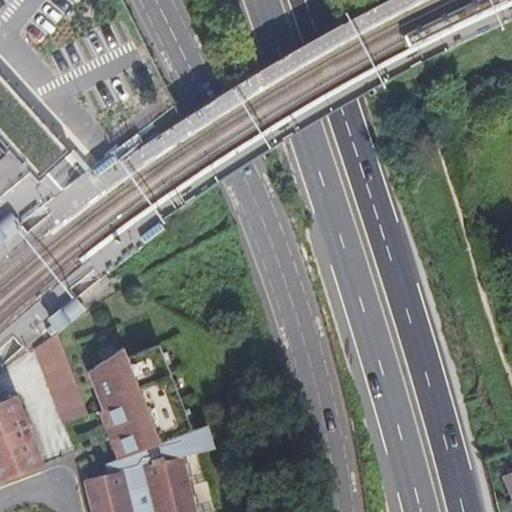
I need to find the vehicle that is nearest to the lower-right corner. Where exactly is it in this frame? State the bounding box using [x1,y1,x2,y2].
[445,425,460,449]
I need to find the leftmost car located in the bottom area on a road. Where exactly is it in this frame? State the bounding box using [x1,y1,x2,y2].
[323,408,338,432]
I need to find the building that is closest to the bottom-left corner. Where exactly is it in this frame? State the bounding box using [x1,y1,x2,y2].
[0,396,44,484]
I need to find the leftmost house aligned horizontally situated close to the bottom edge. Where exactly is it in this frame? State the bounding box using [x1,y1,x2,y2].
[84,458,199,512]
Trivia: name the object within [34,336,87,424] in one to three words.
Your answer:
building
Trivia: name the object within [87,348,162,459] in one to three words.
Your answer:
house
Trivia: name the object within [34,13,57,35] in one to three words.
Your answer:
car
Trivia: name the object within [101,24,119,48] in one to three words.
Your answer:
car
